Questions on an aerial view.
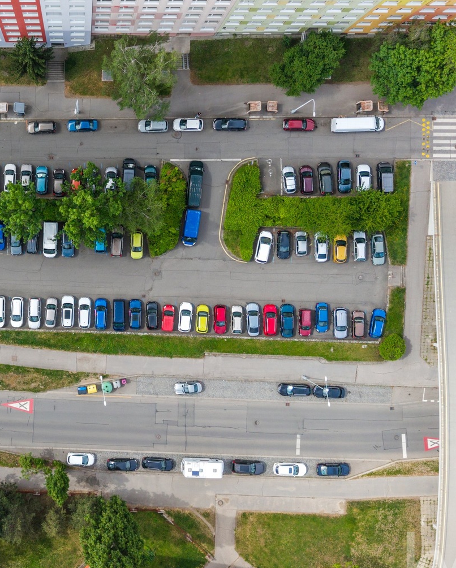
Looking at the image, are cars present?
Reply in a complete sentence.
Yes, the picture does show a car.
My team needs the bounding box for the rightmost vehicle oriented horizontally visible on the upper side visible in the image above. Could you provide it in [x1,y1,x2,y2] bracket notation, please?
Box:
[329,115,382,133]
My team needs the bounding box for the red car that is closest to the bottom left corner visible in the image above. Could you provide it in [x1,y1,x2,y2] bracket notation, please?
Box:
[161,304,176,332]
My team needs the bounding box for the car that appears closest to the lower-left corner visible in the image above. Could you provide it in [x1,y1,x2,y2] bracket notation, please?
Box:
[67,452,94,468]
